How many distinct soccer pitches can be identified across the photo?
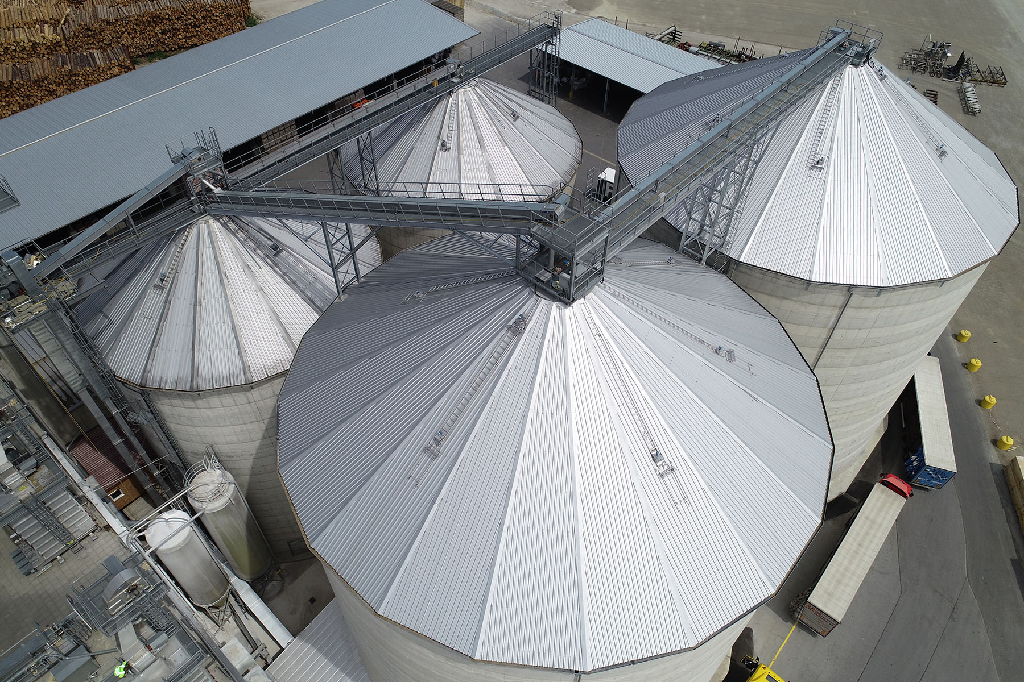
zero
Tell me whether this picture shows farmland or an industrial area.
industrial area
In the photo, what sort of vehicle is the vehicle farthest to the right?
truck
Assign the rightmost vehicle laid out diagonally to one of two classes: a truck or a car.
truck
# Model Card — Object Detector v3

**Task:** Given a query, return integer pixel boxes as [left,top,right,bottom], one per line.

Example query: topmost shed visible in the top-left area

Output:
[0,0,481,254]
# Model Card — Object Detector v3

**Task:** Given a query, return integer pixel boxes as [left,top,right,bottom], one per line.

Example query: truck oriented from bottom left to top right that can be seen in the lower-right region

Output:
[785,467,916,639]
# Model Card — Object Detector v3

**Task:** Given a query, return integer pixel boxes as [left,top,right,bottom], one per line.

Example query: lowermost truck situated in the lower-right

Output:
[749,655,782,682]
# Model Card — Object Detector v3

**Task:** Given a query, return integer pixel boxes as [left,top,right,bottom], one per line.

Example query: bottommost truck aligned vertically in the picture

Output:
[898,348,957,493]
